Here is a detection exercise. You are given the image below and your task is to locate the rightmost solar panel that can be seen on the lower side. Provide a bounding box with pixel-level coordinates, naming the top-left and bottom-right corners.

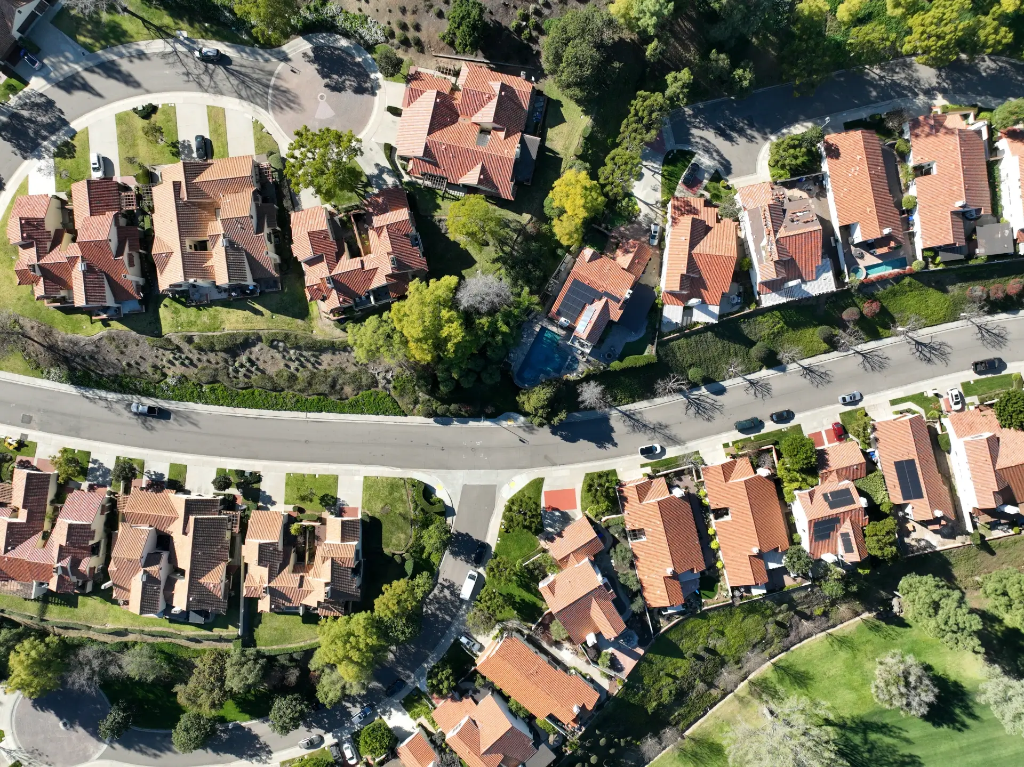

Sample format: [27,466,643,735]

[894,460,924,501]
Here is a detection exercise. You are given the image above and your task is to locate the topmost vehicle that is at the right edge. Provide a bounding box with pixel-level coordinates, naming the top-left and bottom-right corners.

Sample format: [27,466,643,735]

[971,358,1001,371]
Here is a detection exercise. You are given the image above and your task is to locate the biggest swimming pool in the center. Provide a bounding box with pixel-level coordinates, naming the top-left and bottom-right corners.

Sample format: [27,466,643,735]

[517,325,570,386]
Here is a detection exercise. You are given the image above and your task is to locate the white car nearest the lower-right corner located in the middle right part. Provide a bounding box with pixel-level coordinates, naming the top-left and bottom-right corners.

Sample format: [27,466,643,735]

[947,387,962,411]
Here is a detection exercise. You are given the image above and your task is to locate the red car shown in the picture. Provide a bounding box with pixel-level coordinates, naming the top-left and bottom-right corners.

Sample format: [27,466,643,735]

[831,421,846,444]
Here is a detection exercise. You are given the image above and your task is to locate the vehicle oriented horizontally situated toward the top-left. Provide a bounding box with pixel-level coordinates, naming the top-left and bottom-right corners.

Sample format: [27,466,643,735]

[196,48,220,61]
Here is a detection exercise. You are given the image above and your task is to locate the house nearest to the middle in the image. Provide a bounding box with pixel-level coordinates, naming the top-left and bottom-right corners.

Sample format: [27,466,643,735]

[549,240,652,354]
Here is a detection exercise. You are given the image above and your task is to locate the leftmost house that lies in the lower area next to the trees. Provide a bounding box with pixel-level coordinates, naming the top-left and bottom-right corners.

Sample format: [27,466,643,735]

[0,468,116,598]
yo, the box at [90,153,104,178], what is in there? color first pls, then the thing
white car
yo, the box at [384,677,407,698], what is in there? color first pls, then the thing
black car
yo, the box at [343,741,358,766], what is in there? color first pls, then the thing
white car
